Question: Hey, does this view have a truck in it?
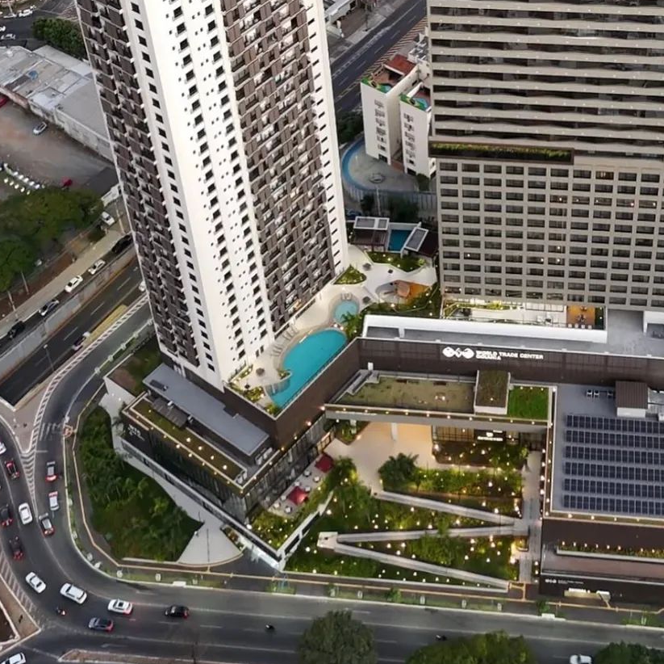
No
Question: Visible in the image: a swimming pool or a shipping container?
swimming pool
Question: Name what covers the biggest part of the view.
buildings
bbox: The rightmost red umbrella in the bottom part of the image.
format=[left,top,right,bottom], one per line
[313,445,334,464]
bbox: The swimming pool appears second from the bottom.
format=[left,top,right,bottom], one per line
[332,299,360,324]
